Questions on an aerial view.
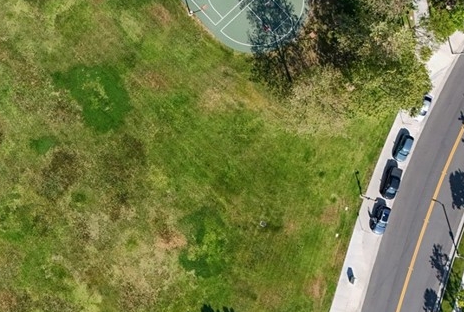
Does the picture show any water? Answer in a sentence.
No, no water is visible.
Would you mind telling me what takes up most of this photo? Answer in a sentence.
For the most part, this view shows grass.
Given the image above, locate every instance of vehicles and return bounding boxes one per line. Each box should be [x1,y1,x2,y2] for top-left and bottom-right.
[381,165,404,200]
[411,92,434,122]
[373,205,392,234]
[393,133,414,162]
